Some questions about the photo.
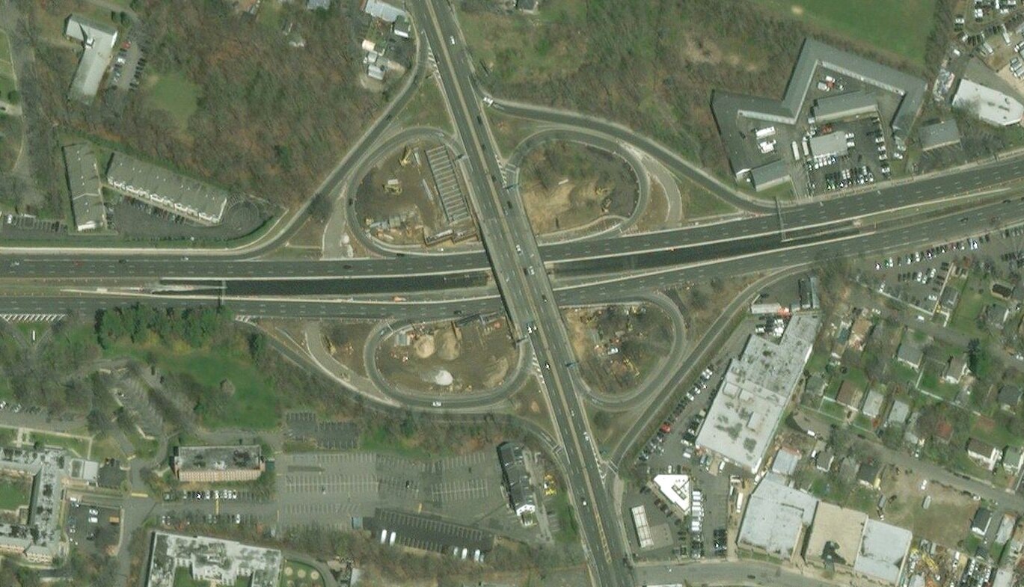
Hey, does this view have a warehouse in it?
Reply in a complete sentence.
Yes, you can see a warehouse in this photo.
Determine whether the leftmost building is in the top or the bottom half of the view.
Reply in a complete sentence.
You can find the leftmost building in the bottom half.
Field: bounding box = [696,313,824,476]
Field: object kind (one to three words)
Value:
warehouse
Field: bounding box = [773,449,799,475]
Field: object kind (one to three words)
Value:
shed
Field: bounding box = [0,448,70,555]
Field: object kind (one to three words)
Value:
building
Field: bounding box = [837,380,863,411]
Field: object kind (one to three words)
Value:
house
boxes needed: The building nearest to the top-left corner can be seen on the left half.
[66,13,120,110]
